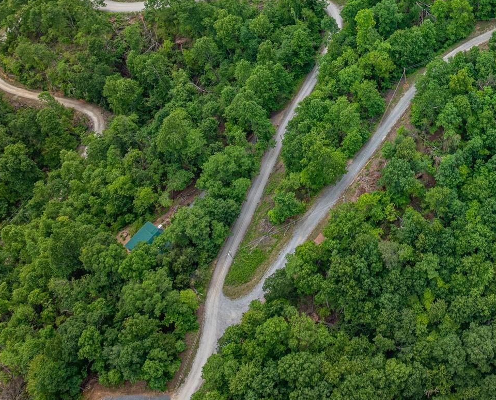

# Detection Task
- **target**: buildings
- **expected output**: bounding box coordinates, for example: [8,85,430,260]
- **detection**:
[122,221,171,257]
[312,233,329,249]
